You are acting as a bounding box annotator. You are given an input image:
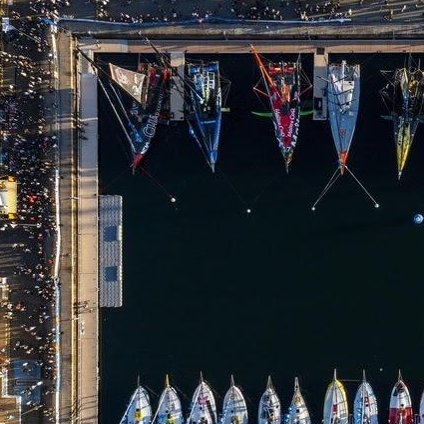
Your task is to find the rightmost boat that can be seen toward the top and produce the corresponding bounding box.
[376,49,424,180]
